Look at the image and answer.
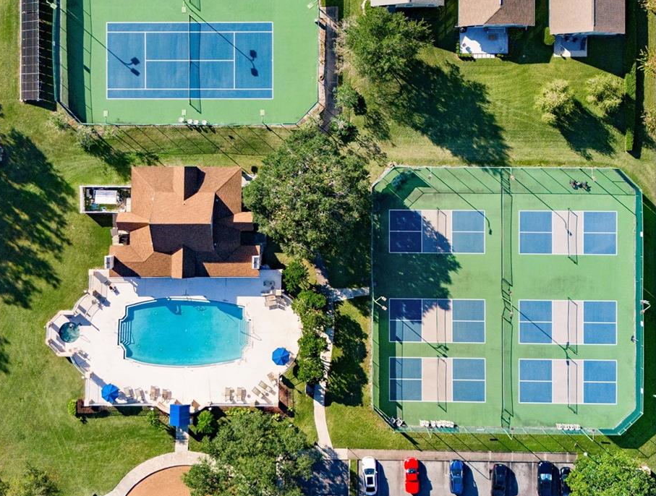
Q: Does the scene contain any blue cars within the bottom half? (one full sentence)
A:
Yes, a blue car appears within the bottom half.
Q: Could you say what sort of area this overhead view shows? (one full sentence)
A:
The picture captures a sports ground.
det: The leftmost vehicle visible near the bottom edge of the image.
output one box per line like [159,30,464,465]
[361,456,378,495]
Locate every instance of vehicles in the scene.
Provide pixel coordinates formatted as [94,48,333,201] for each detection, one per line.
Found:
[491,464,508,496]
[403,458,420,495]
[361,456,378,495]
[537,462,554,496]
[559,468,572,496]
[448,460,465,495]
